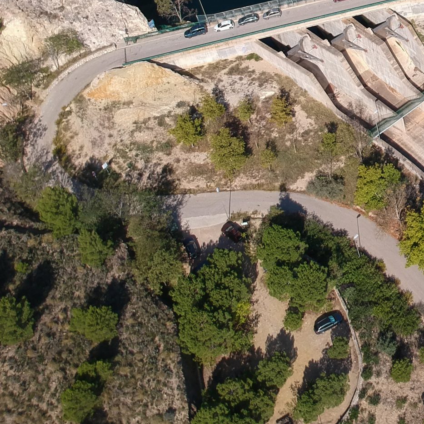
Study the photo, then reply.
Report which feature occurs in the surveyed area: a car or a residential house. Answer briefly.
car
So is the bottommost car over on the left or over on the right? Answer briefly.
right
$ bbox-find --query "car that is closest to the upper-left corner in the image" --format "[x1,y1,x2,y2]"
[184,22,207,36]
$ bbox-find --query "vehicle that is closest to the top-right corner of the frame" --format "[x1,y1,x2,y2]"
[263,6,283,18]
